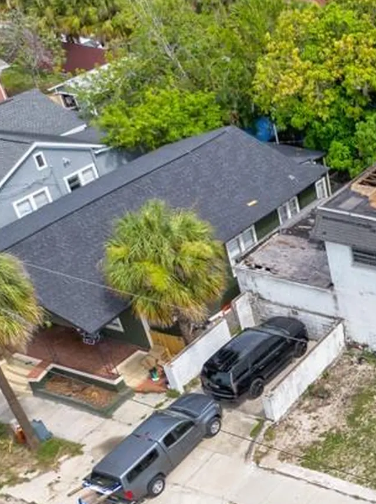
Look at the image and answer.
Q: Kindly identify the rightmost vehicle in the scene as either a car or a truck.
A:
car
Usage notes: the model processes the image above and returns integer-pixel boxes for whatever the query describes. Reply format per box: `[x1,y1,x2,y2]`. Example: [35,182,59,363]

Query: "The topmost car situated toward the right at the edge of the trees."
[195,318,309,407]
